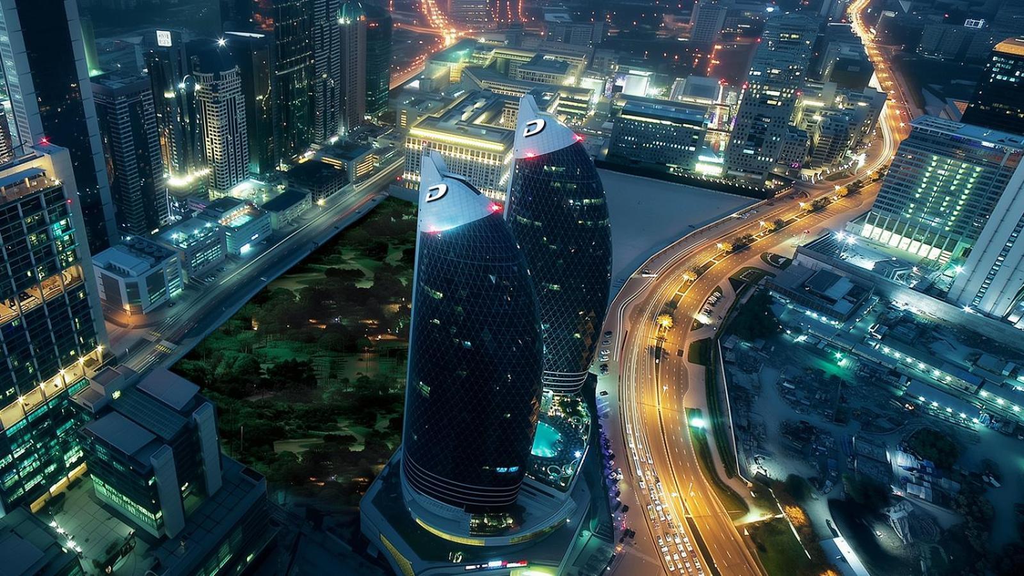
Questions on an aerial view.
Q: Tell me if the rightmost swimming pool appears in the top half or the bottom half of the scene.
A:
bottom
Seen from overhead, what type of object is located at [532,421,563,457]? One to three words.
swimming pool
